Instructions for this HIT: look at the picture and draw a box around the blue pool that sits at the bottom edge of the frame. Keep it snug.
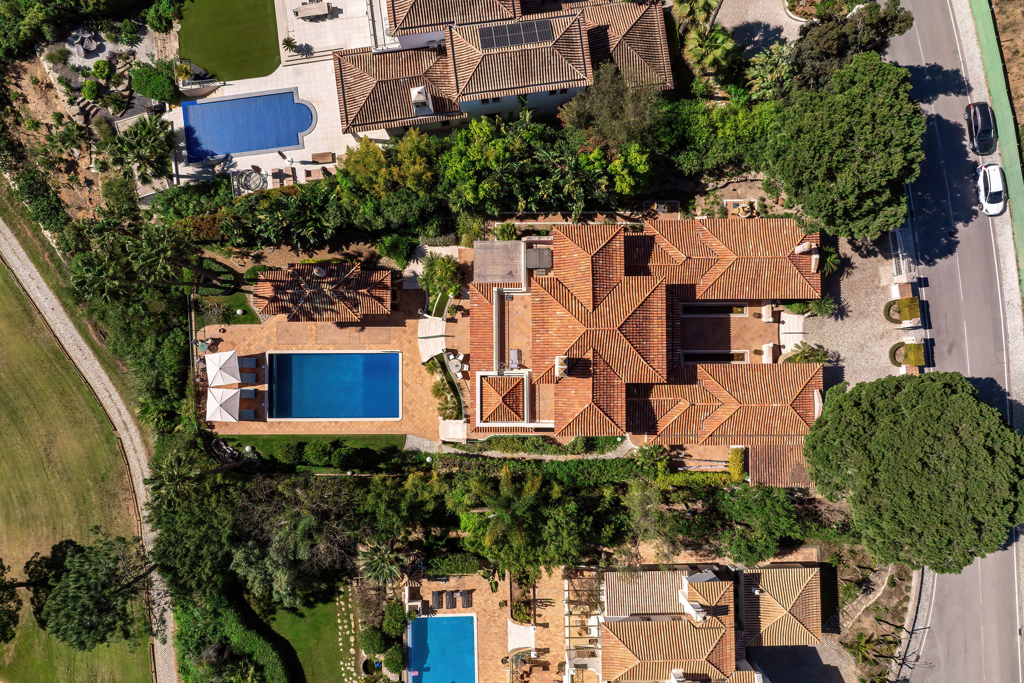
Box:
[409,613,478,683]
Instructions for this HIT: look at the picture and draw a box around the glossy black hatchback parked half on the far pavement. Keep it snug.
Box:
[965,101,1000,157]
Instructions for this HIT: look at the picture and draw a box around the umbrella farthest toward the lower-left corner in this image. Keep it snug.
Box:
[206,388,240,422]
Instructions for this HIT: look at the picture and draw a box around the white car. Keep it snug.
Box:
[974,163,1009,218]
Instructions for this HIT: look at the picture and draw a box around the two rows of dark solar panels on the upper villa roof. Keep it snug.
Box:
[479,20,553,49]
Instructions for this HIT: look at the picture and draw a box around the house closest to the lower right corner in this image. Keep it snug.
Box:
[599,554,823,683]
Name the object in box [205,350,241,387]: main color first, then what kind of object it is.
white umbrella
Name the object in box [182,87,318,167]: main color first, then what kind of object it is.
blue swimming pool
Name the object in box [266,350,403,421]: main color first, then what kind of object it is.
blue swimming pool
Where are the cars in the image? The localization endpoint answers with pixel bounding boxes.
[974,163,1009,218]
[965,101,1000,157]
